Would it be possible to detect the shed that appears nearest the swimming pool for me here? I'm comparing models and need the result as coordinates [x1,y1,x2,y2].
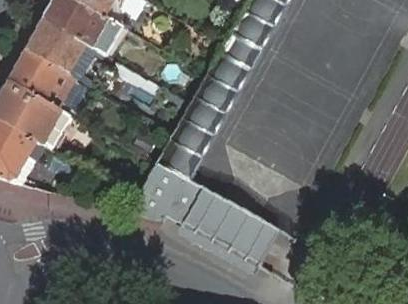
[116,64,159,96]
